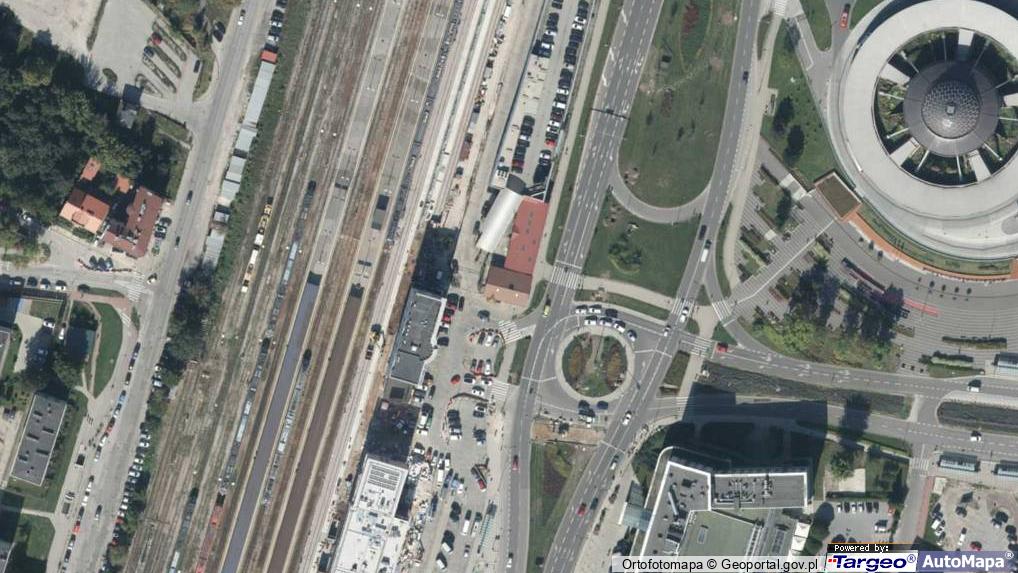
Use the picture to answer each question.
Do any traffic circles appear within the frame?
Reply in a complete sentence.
Yes, a traffic circle can be made out from above.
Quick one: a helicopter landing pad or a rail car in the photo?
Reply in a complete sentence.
The image shows a rail car.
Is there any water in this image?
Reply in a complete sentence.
No, water can't be seen anywhere here.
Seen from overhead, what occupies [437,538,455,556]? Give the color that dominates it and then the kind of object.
white vehicle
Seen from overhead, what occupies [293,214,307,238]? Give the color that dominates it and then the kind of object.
gray rail car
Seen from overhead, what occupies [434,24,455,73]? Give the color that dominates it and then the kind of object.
gray rail car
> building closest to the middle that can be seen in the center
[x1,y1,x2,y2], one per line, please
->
[482,267,533,308]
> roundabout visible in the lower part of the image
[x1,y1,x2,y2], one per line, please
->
[557,326,633,404]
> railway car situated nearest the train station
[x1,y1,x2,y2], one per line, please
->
[386,201,405,244]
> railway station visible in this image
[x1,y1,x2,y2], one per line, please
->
[383,288,446,407]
